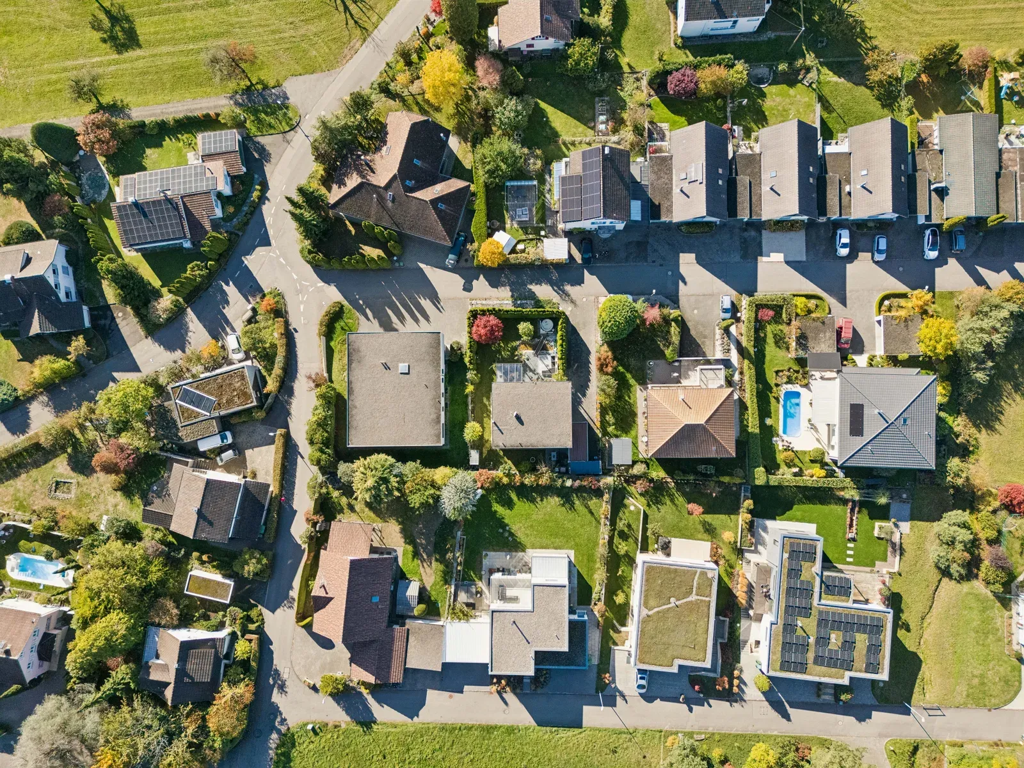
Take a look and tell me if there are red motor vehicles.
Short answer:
Yes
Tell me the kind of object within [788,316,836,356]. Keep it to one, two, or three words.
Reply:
building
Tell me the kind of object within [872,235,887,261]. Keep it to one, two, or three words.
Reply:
car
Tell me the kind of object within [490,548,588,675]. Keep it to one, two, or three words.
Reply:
house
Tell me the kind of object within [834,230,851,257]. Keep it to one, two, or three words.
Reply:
car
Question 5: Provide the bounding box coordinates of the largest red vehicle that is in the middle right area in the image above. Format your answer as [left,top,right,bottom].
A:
[835,316,855,349]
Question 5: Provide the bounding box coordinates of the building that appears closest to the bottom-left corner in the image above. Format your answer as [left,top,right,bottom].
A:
[0,594,75,685]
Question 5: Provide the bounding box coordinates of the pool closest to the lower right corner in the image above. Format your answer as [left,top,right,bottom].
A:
[782,390,801,437]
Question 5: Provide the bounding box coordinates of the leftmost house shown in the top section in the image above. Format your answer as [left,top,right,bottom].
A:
[0,240,90,338]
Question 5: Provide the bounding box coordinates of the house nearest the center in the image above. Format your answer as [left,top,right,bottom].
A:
[492,382,572,448]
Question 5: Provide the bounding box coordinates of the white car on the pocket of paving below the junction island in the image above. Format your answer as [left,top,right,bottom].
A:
[227,333,244,360]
